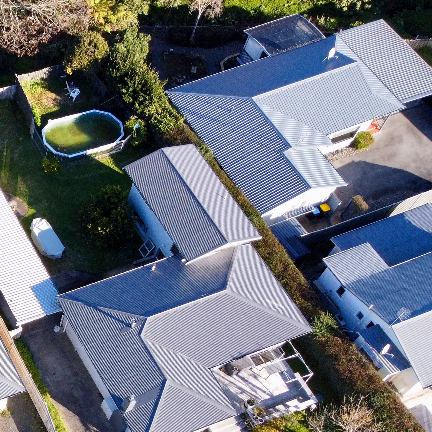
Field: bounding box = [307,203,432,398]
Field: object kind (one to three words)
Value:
house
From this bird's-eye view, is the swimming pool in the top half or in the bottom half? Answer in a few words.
top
